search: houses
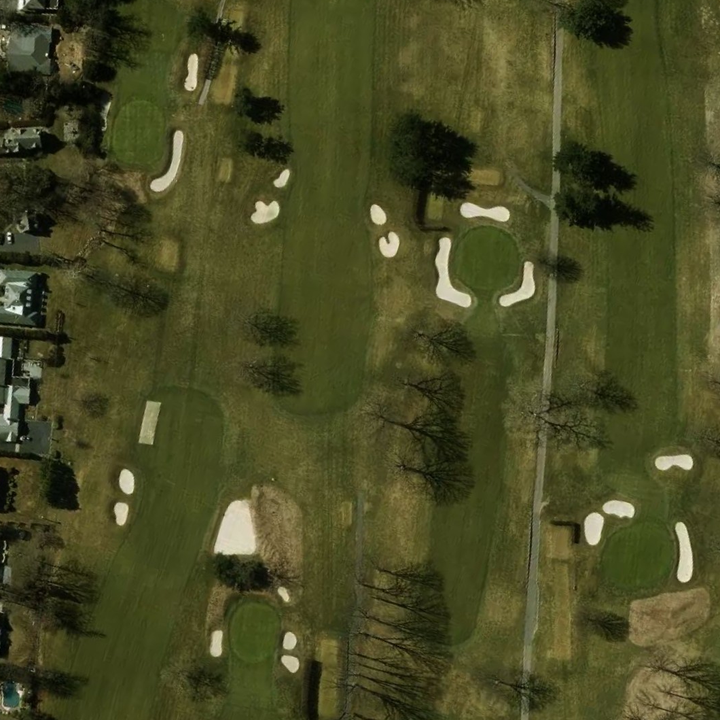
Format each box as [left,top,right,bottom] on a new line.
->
[0,127,41,154]
[17,0,58,12]
[7,24,53,75]
[0,336,30,442]
[17,209,38,233]
[0,270,47,326]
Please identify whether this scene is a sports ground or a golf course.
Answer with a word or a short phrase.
golf course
